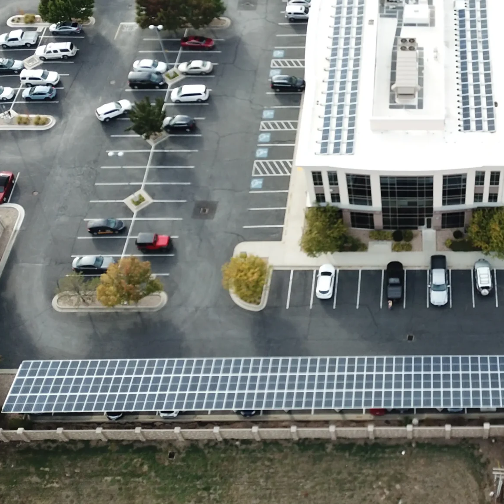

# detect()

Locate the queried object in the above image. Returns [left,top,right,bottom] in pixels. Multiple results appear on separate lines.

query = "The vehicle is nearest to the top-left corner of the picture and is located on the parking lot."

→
[0,30,40,48]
